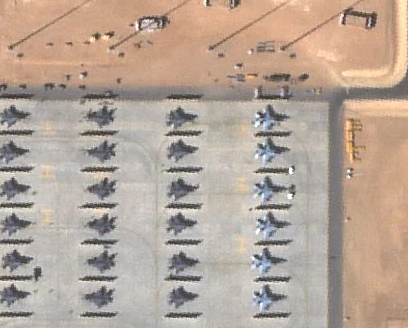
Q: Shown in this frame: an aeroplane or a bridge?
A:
aeroplane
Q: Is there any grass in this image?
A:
No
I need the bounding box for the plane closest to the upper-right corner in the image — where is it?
[254,108,286,130]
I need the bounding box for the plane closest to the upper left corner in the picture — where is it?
[0,109,26,126]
